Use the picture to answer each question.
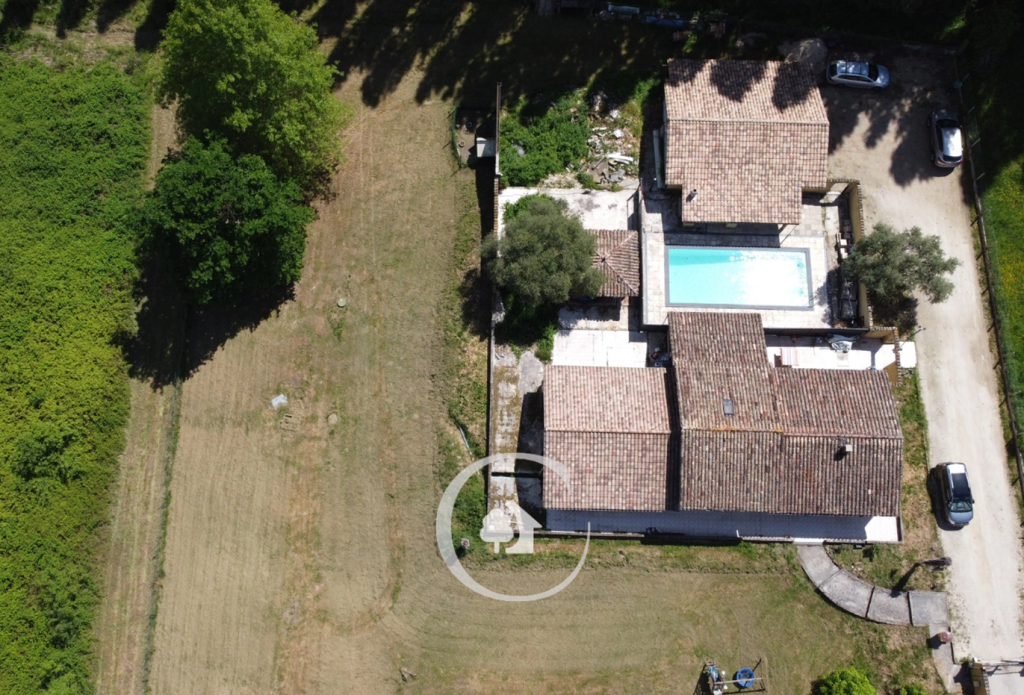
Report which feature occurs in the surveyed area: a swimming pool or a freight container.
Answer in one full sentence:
Looking from above, you can make out a swimming pool.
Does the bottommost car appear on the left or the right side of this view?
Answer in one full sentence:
You can find the bottommost car on the right side of the picture.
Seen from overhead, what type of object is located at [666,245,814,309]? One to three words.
swimming pool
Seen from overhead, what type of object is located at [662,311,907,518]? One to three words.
house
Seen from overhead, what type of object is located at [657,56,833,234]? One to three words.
building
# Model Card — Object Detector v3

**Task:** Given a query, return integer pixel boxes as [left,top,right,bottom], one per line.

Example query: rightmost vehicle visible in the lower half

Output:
[929,462,973,528]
